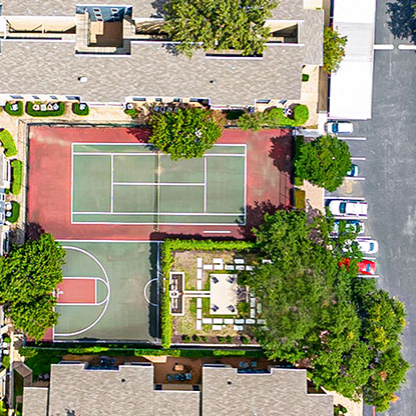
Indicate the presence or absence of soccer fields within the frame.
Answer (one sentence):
No, I can't see a single soccer field in this photo.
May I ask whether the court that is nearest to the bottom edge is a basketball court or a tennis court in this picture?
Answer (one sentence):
I'd say the court that is nearest to the bottom edge is a basketball court.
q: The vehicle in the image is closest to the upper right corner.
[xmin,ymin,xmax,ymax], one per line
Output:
[321,119,358,135]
